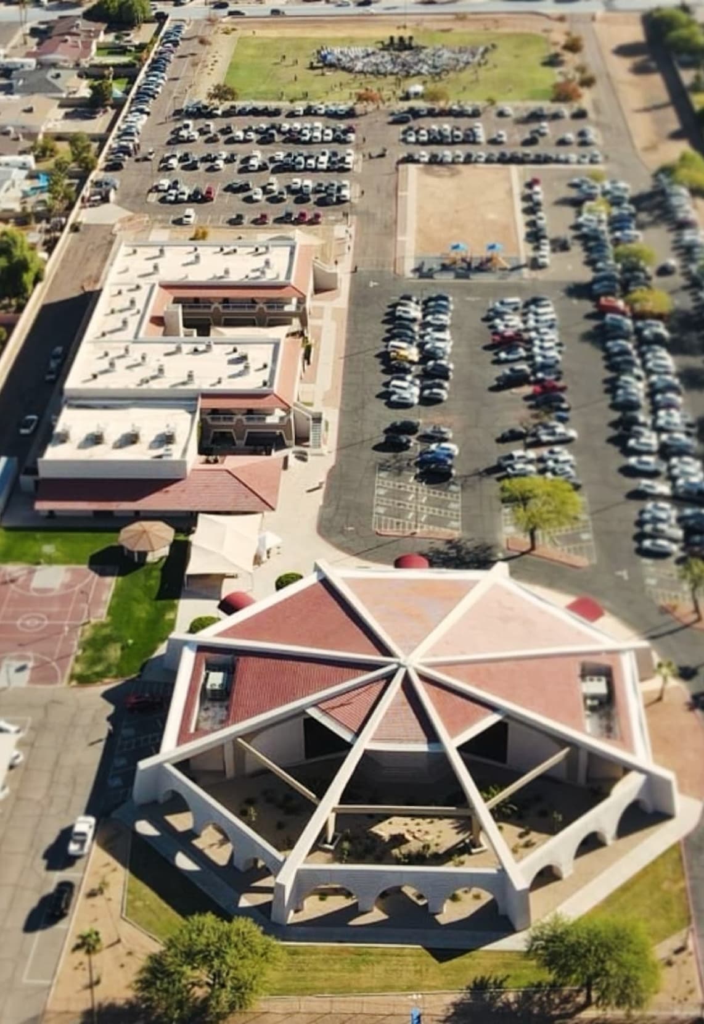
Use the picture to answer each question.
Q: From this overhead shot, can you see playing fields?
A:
Yes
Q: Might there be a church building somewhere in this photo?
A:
Yes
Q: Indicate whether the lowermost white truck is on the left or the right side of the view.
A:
left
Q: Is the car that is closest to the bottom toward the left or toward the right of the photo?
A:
left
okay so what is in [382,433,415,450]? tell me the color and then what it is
black car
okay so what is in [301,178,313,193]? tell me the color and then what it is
white vehicle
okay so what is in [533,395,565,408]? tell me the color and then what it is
black vehicle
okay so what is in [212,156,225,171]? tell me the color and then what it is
white vehicle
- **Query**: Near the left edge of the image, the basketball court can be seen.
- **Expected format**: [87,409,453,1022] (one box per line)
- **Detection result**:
[0,565,120,686]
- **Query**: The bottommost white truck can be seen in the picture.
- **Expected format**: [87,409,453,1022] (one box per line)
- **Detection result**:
[65,817,97,861]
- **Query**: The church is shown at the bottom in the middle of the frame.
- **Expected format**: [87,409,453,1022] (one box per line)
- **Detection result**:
[133,558,680,931]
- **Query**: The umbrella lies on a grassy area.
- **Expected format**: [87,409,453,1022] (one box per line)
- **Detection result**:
[120,525,172,568]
